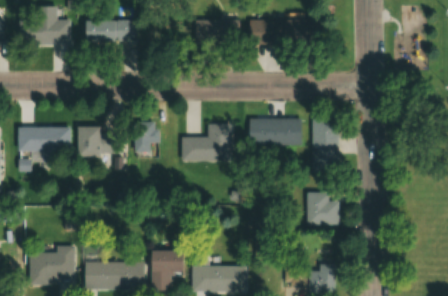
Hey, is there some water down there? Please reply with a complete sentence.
No, the scene doesn't show any water.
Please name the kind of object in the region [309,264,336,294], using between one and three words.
house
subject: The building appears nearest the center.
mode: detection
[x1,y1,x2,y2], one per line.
[182,124,232,162]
